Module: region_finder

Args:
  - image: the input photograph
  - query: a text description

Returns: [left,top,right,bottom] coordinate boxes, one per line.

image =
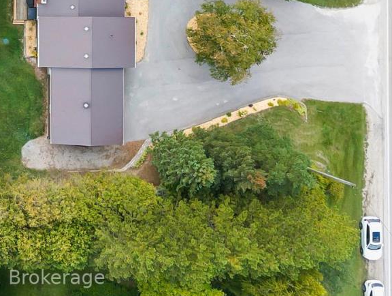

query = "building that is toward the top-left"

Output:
[34,0,136,148]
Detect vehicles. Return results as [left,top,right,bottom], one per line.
[362,281,386,296]
[360,218,385,260]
